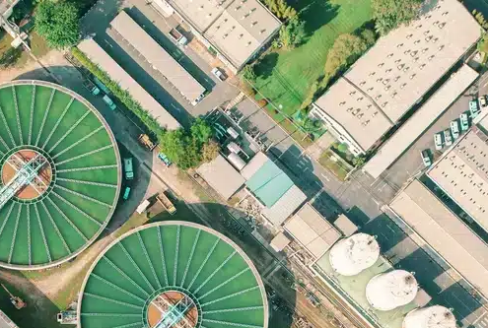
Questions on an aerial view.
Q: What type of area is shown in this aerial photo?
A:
industrial area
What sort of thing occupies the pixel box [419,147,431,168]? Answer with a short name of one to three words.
vehicle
